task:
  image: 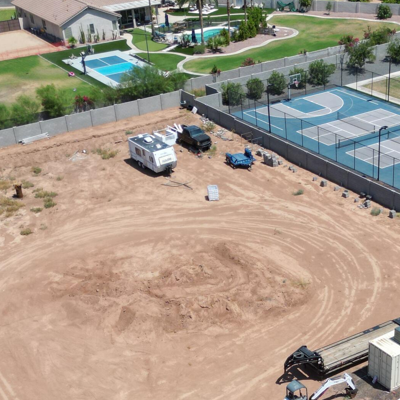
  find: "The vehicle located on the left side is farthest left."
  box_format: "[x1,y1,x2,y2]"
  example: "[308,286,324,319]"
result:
[128,134,174,175]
